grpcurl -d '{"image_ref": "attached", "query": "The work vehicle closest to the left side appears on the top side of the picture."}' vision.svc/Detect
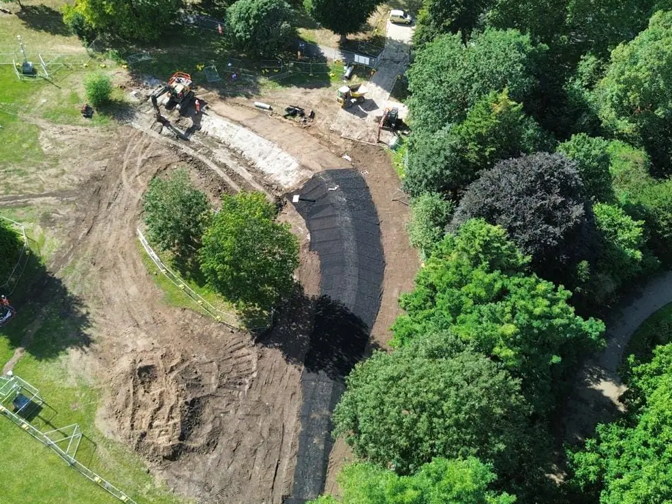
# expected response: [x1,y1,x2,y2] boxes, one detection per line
[144,75,198,124]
